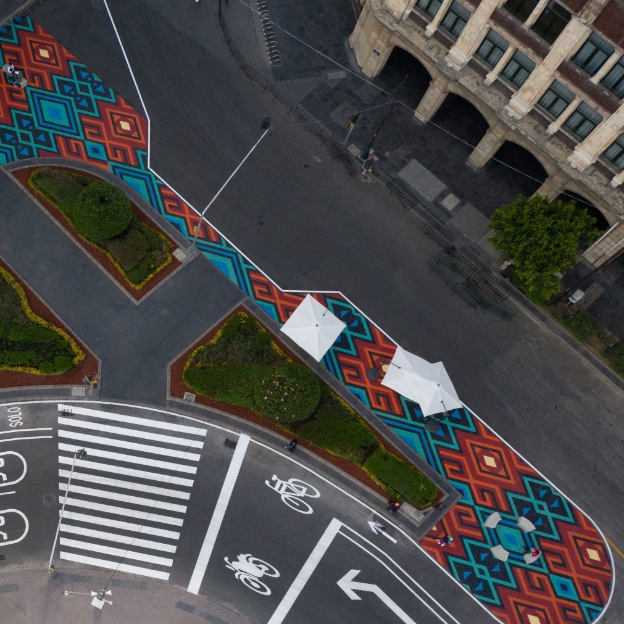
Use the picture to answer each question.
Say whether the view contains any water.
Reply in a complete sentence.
No, the scene doesn't show any water.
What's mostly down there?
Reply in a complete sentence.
The scene is dominated by paved ground.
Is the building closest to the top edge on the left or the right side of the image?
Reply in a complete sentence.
The building closest to the top edge is on the right side of the image.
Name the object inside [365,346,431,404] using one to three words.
umbrella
